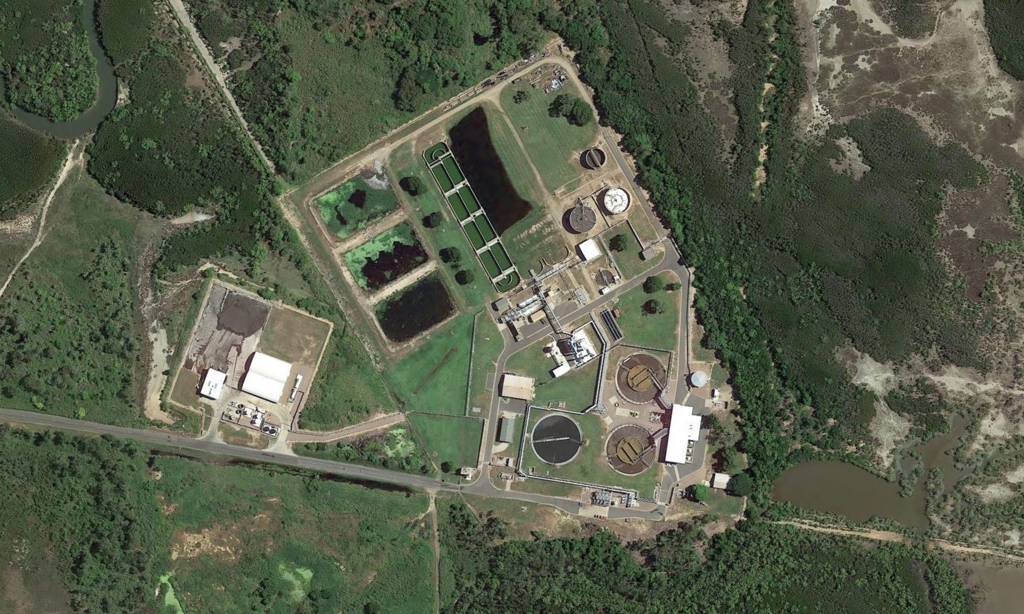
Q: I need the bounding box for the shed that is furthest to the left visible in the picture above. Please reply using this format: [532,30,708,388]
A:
[199,368,226,399]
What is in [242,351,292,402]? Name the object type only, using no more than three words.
hangar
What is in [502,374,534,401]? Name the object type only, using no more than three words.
building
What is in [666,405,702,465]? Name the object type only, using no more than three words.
building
